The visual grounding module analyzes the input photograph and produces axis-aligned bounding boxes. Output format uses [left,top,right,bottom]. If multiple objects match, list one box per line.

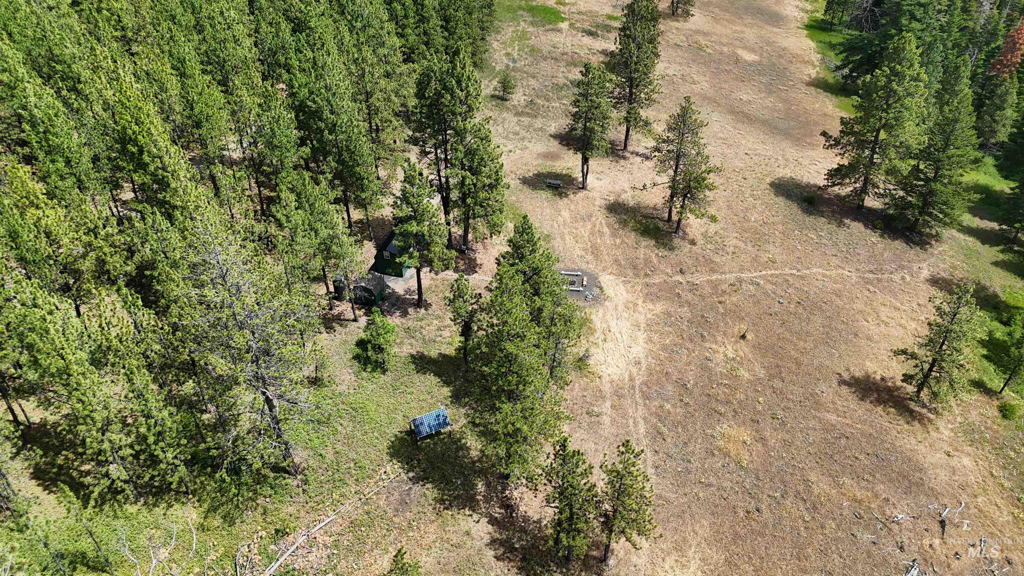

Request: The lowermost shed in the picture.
[350,268,388,305]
